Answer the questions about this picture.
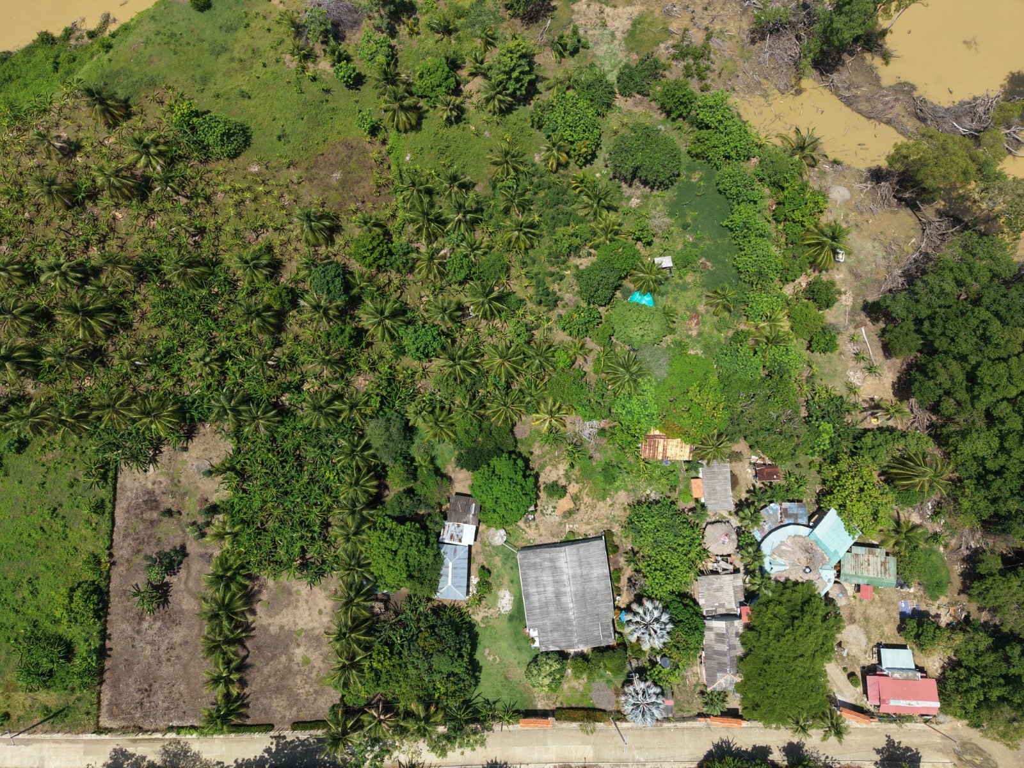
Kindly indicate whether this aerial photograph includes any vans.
No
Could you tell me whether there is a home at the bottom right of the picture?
Yes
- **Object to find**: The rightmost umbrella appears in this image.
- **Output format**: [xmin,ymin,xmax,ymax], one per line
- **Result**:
[827,583,852,607]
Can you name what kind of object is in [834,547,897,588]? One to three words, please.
barn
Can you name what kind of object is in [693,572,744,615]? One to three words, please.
building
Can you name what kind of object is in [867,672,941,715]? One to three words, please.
house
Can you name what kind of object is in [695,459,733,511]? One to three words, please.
house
